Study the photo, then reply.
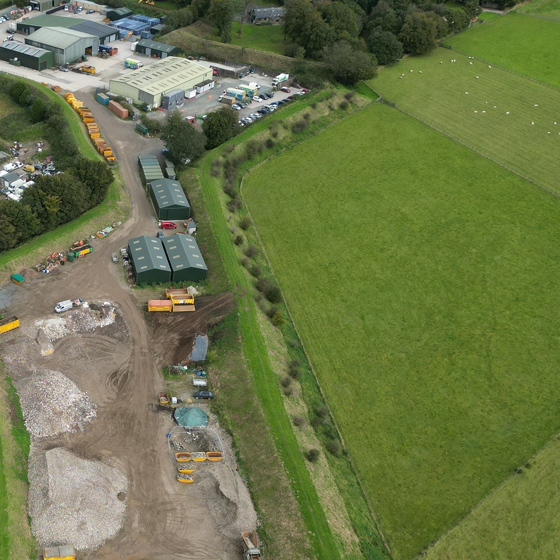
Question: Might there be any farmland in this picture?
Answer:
Yes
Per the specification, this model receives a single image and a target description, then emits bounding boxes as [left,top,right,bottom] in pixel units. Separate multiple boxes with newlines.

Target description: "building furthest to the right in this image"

[253,8,288,26]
